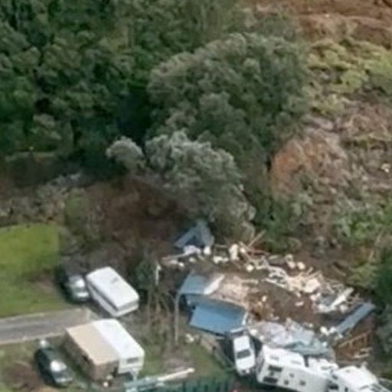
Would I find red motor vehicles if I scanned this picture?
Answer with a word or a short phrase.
No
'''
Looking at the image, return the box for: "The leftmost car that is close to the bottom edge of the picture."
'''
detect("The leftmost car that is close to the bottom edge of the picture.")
[36,347,73,384]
